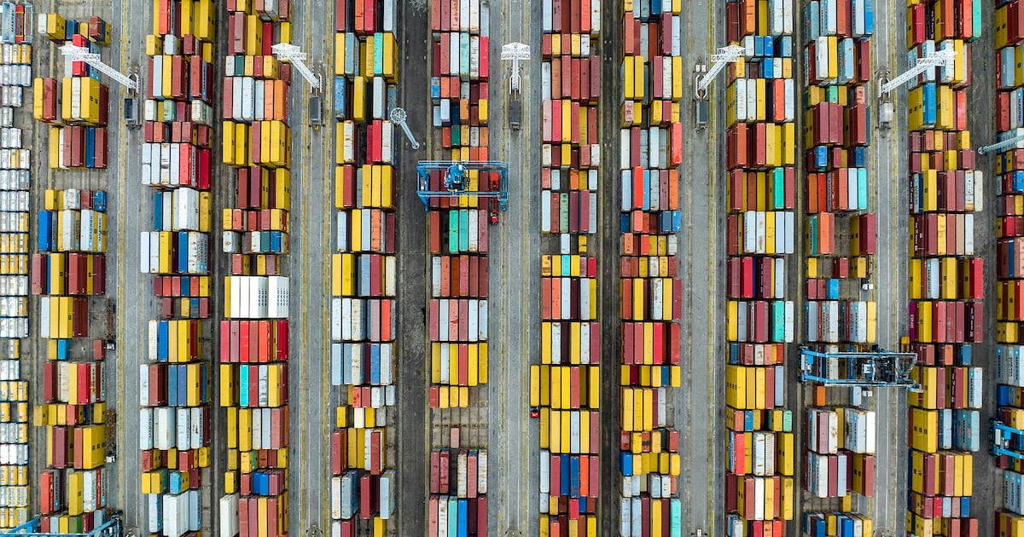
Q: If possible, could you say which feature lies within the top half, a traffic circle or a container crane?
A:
container crane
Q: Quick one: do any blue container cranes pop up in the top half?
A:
Yes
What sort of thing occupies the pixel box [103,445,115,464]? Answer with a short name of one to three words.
vehicle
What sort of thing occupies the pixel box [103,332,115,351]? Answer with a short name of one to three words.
vehicle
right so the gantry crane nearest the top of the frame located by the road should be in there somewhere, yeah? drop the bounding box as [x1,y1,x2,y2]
[413,160,512,210]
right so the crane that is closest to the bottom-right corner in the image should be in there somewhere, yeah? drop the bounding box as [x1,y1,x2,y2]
[992,421,1024,462]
